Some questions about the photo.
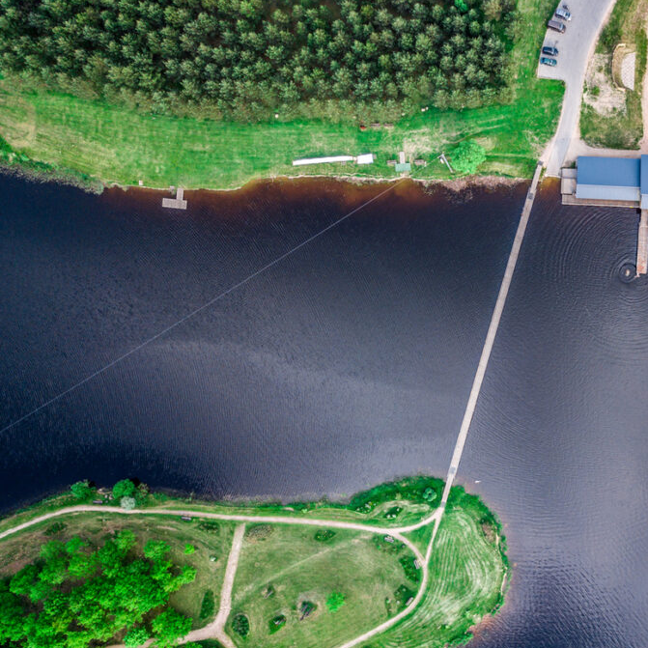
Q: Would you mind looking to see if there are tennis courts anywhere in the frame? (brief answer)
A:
No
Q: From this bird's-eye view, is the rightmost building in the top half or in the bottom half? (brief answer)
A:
top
